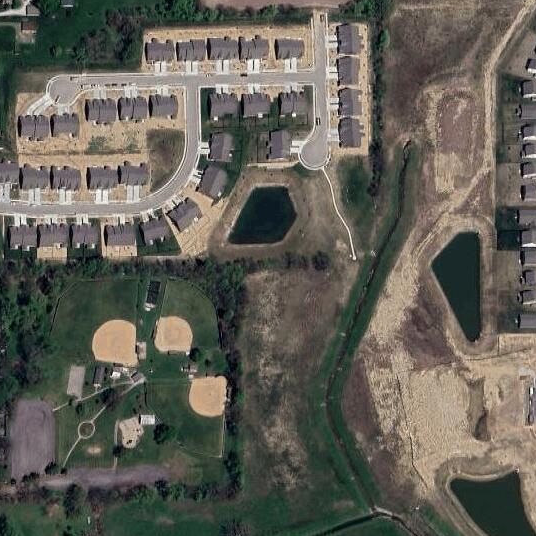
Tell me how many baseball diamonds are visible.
three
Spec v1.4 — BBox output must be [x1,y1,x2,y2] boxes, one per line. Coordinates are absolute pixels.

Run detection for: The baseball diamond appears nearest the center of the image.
[153,278,223,355]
